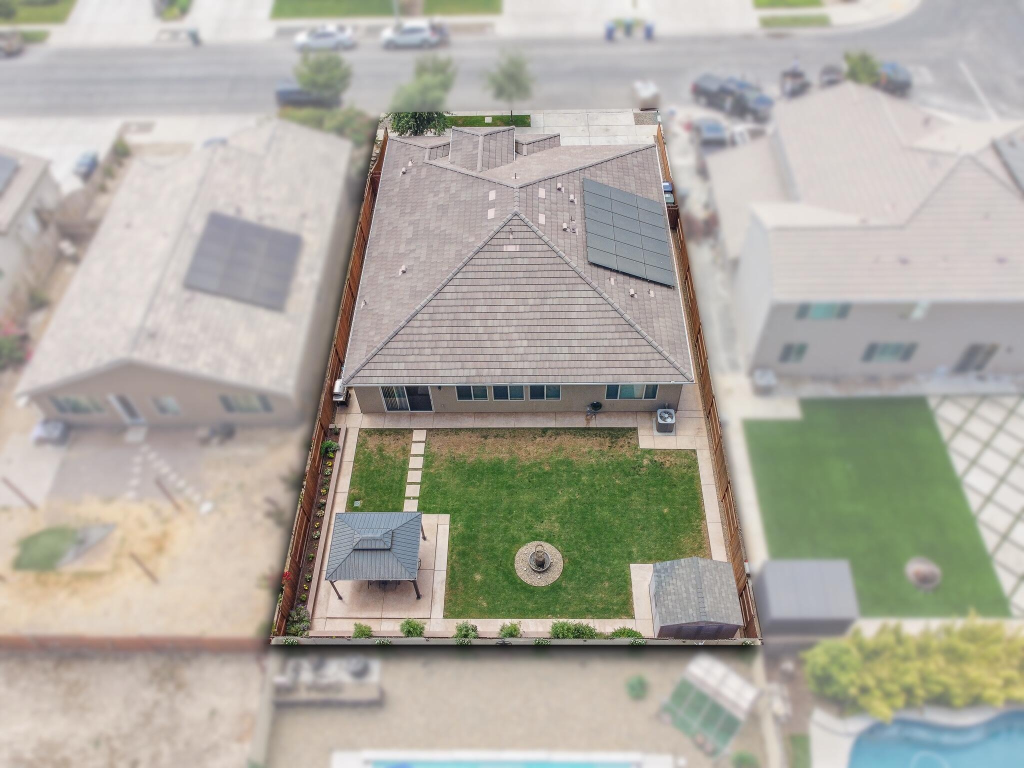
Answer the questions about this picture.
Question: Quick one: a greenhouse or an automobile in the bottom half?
greenhouse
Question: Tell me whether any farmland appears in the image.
No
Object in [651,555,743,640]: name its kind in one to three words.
shed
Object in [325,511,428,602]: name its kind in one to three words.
gazebo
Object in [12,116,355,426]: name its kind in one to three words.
house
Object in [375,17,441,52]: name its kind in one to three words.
car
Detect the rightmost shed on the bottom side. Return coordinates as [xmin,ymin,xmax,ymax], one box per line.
[757,560,865,636]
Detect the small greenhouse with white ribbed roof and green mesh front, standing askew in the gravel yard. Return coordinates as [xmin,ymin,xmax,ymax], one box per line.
[662,653,763,757]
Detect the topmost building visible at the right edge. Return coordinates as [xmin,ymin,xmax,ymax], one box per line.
[704,83,1024,377]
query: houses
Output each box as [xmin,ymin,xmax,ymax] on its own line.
[340,124,696,413]
[12,116,355,426]
[0,135,67,312]
[704,83,1024,377]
